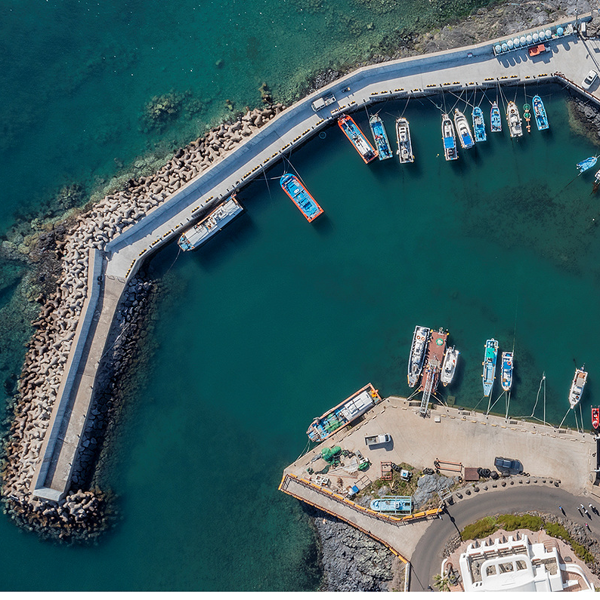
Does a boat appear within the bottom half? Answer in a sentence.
Yes, the scene does show a boat within the bottom half.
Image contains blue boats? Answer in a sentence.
Yes, there's a blue boat down there.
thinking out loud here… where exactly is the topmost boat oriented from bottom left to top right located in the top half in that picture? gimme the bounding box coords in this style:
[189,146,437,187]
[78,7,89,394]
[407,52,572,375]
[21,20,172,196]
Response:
[574,155,597,175]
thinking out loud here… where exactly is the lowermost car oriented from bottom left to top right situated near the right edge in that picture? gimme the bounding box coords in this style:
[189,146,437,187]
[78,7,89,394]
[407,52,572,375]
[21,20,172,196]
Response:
[581,69,600,91]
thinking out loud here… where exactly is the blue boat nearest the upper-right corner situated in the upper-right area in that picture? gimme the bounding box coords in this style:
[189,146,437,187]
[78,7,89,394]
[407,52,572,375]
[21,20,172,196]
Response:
[532,95,548,131]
